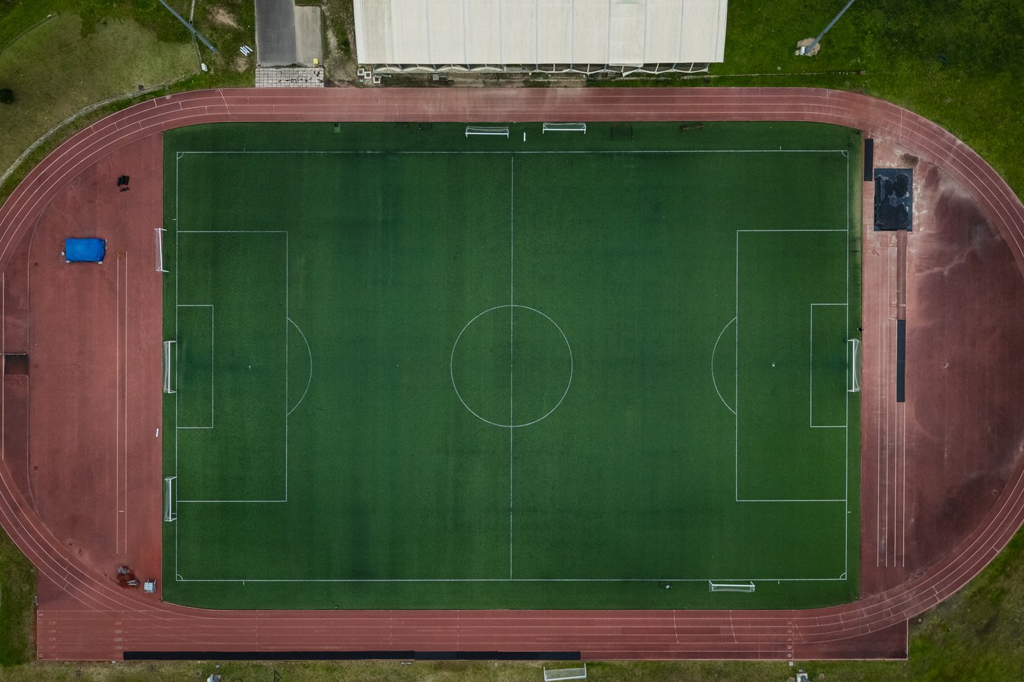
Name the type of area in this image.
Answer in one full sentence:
The area seen from above is a sports ground.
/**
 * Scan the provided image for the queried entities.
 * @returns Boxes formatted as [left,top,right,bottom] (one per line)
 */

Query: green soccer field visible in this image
[162,122,862,610]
